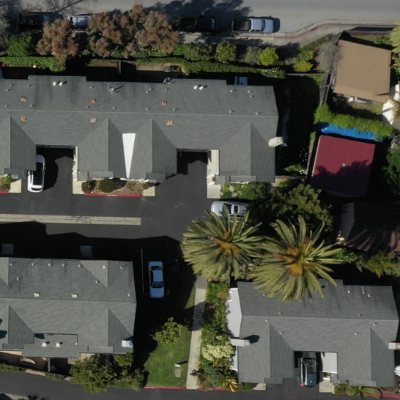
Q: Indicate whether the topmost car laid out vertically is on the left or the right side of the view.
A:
left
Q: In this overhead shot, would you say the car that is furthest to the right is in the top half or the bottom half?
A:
bottom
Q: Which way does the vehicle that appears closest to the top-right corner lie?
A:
horizontally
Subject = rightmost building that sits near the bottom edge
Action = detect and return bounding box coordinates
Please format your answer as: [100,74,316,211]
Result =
[211,278,400,387]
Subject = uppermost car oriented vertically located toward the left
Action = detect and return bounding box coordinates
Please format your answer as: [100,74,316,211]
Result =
[27,154,47,193]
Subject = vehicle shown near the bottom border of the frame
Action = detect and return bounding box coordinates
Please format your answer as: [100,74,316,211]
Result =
[297,352,318,388]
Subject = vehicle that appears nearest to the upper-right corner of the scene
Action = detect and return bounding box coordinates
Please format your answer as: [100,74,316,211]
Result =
[230,14,276,35]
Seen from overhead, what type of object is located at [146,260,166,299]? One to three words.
car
